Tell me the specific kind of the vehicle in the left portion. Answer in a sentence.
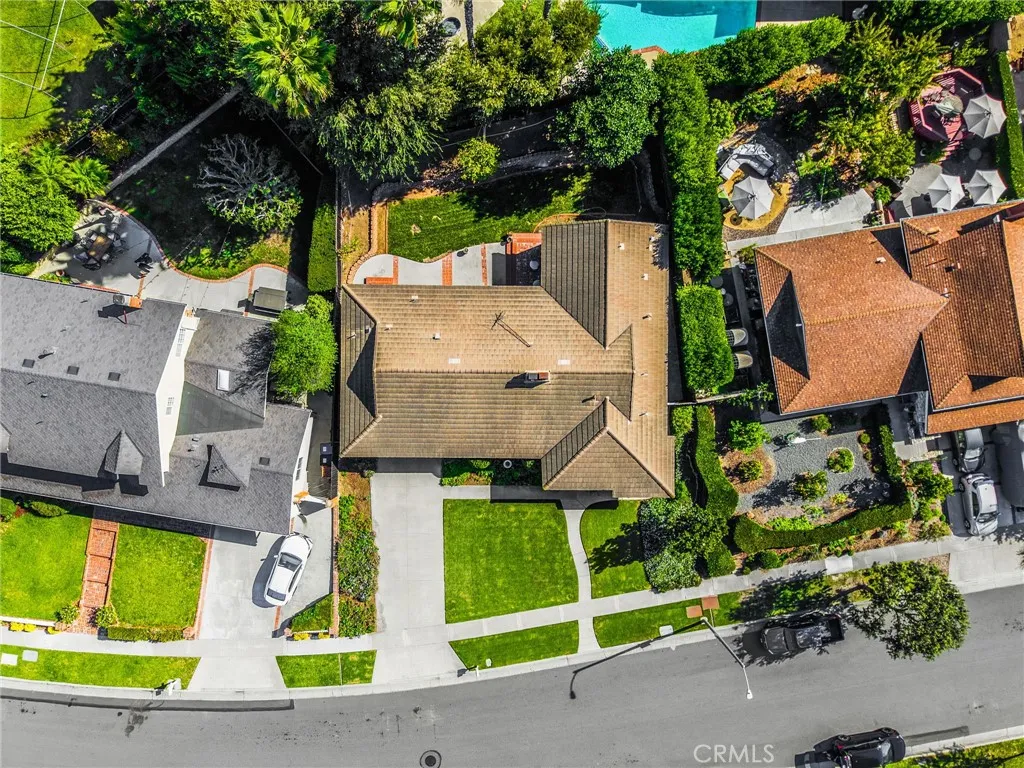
The vehicle in the left portion can be classified as an automobile.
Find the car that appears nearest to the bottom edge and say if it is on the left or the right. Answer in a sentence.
The car that appears nearest to the bottom edge is on the right side of the image.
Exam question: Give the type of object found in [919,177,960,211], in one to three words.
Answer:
umbrella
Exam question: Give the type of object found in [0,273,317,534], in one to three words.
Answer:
house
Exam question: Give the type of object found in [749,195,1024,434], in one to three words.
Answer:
house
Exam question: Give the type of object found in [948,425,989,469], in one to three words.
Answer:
car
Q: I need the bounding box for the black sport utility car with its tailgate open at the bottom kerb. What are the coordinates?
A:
[806,725,904,768]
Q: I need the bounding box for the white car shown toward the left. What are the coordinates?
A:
[260,530,316,609]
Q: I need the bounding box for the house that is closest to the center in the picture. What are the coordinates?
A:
[339,217,675,497]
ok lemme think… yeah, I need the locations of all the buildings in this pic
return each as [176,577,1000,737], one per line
[749,195,1024,434]
[339,217,675,497]
[0,273,317,534]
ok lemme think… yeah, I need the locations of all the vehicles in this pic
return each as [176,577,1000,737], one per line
[956,473,1002,531]
[948,425,989,469]
[759,609,848,653]
[260,530,316,609]
[806,725,904,768]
